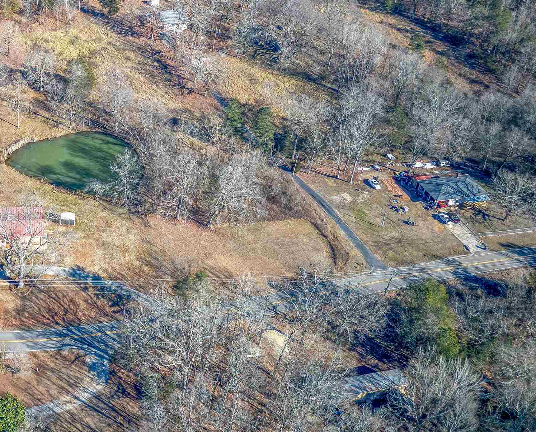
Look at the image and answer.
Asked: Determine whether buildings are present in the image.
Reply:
Yes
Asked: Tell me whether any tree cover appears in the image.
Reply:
Yes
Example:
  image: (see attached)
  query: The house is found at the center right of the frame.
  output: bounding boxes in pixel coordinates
[412,174,494,210]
